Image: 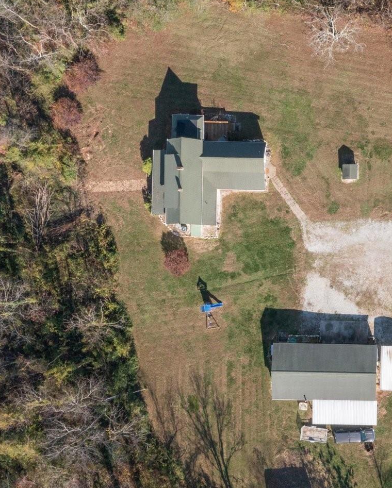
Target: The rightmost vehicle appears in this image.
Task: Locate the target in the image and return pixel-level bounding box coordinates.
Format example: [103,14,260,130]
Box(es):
[335,428,377,445]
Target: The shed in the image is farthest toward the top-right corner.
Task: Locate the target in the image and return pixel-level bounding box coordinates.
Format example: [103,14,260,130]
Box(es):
[341,163,358,183]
